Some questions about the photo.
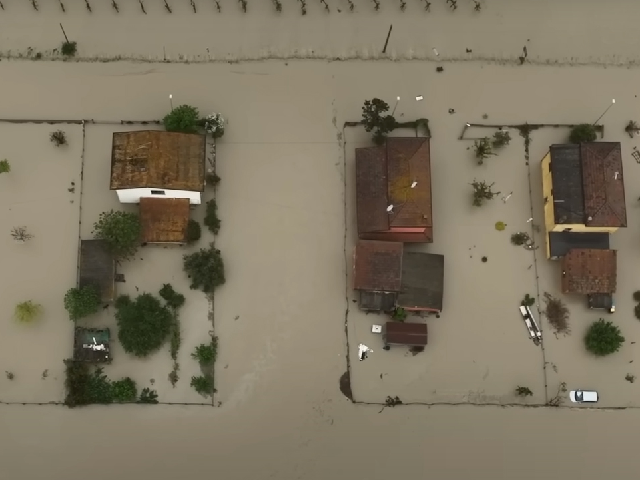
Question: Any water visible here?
Yes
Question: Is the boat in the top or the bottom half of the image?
bottom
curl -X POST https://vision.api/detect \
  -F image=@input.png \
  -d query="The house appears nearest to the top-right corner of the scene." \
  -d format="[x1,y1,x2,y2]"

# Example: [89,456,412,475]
[542,142,627,262]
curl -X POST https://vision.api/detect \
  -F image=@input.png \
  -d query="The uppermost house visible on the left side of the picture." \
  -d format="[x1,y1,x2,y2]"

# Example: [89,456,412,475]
[109,130,207,245]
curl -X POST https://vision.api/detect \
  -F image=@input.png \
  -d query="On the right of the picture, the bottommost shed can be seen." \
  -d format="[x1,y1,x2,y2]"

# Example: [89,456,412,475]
[385,322,428,347]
